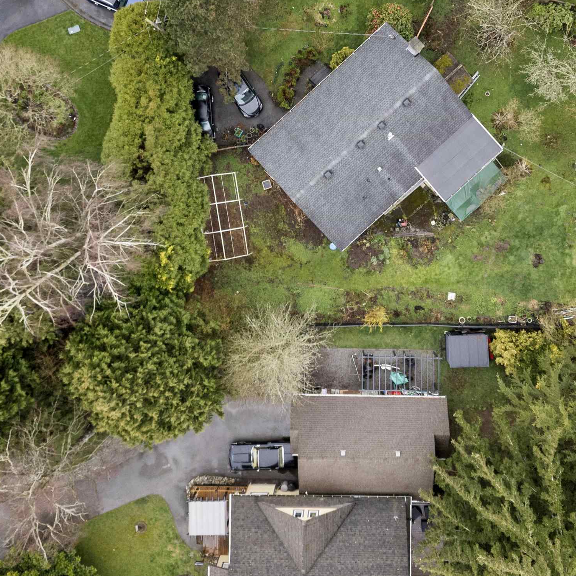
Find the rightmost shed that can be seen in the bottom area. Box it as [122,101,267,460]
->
[444,331,489,367]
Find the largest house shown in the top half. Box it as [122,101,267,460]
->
[247,21,504,252]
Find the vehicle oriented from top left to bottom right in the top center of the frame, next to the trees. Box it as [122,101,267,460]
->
[210,61,267,118]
